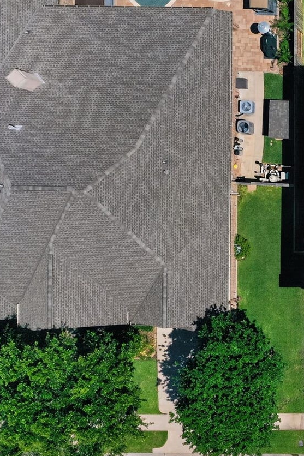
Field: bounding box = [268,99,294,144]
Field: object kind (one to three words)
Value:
shed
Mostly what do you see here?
buildings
